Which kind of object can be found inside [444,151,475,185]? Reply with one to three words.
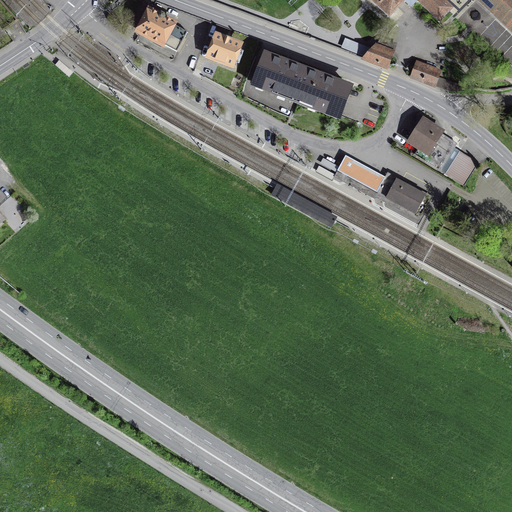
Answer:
building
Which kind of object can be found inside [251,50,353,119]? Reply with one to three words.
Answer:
building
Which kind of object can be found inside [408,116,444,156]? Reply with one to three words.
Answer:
house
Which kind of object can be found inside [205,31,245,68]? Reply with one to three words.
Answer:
house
